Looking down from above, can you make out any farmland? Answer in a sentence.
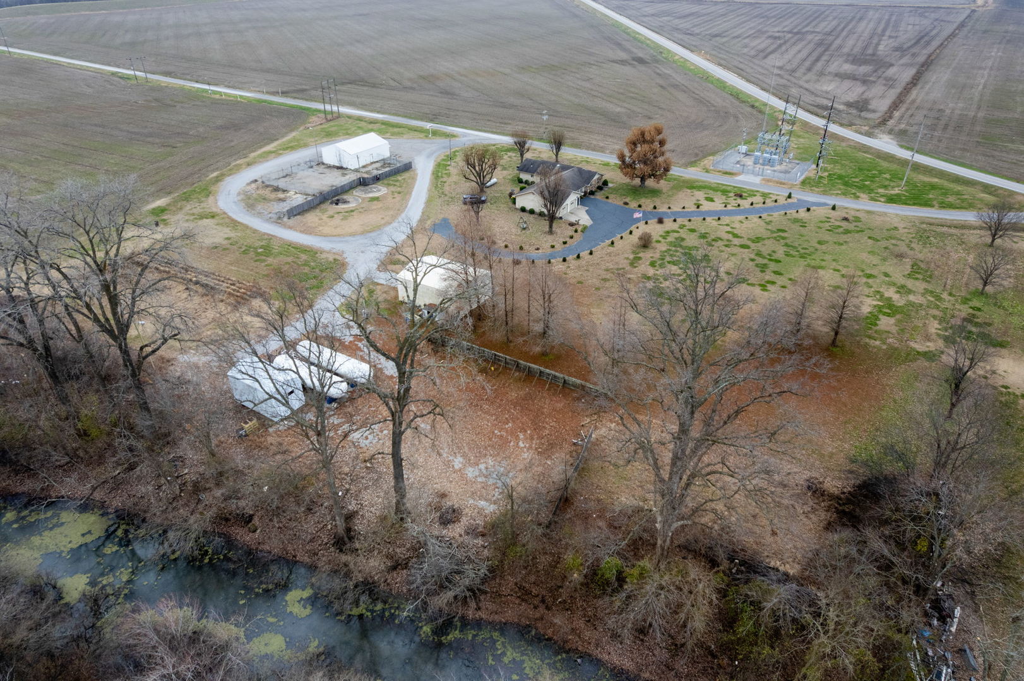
Yes, farmland shows up in the scene.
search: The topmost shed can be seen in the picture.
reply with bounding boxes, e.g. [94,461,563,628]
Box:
[326,131,387,169]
